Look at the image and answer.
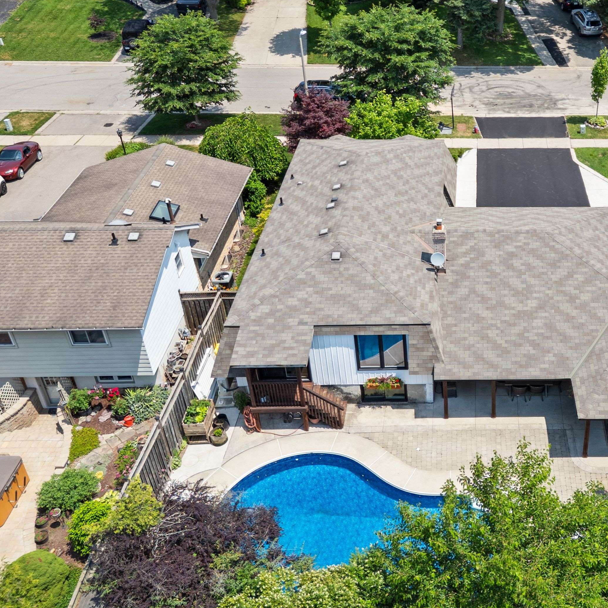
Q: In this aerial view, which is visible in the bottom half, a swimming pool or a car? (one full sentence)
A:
The one visible in the bottom half is a swimming pool.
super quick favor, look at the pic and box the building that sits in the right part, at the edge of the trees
[212,131,608,458]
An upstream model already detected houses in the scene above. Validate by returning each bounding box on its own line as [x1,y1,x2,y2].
[0,145,251,402]
[212,131,608,458]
